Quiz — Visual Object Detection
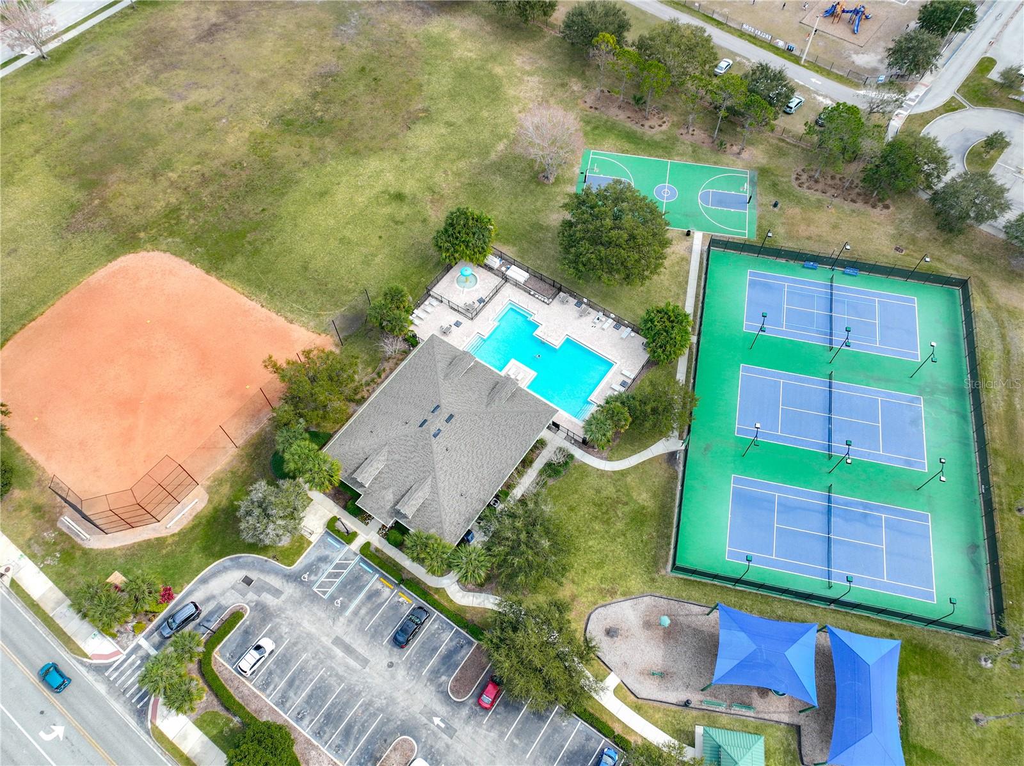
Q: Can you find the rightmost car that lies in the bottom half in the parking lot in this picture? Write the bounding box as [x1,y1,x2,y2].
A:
[595,743,620,766]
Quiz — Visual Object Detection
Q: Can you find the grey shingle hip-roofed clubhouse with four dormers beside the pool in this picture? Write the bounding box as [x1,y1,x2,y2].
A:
[321,334,558,551]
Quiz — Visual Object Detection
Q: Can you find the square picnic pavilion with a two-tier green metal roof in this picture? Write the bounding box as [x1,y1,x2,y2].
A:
[701,727,765,766]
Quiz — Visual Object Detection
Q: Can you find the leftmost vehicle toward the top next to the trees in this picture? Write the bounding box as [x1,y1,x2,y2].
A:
[713,56,735,73]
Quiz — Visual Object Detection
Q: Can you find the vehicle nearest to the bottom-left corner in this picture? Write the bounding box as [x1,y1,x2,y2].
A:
[35,660,70,697]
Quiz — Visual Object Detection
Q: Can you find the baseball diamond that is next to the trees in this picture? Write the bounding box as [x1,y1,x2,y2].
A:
[0,251,341,548]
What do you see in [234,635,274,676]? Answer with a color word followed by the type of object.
white car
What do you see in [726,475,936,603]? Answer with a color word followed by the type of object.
blue tennis court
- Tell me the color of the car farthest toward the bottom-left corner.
blue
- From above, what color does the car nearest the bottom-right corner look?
blue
